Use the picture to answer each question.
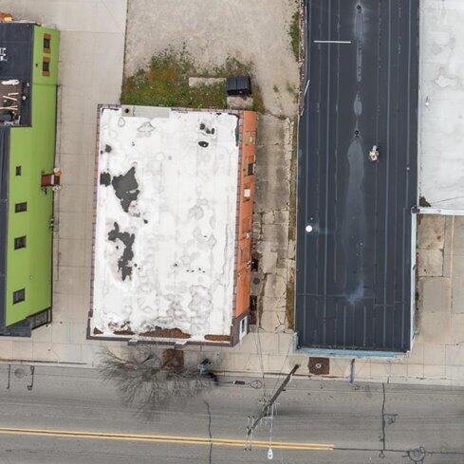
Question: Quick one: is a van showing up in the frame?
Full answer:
No, there appears to be no van in this shot.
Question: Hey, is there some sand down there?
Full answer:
No, there is no sand in the image.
